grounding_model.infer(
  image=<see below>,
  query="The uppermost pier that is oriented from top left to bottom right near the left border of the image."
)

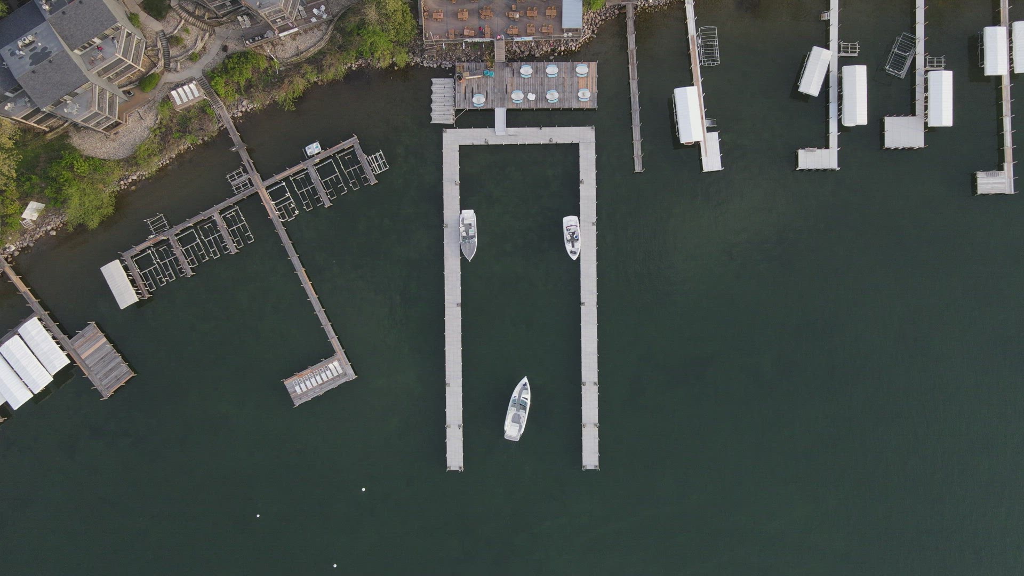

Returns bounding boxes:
[0,255,138,398]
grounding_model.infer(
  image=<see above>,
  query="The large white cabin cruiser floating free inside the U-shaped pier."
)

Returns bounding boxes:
[504,375,530,441]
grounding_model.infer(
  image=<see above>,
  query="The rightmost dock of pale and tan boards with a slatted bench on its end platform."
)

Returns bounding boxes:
[973,0,1018,195]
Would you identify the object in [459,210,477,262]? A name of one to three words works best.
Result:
boat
